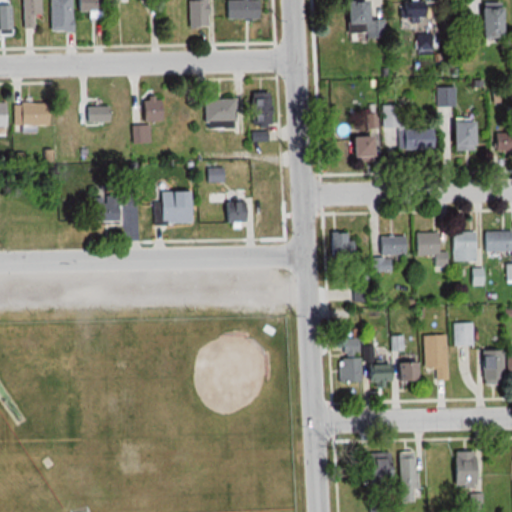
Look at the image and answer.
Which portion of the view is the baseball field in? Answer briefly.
bottom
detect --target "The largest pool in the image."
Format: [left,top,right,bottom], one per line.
[337,123,352,138]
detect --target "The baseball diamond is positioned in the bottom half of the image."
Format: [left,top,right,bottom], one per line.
[194,330,270,414]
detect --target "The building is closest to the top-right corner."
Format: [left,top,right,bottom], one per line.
[485,0,508,38]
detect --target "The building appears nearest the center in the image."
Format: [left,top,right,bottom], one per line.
[226,196,248,230]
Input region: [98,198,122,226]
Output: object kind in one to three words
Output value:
house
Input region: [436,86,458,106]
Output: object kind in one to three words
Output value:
building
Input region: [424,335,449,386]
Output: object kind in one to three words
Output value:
house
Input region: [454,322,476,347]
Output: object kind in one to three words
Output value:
building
